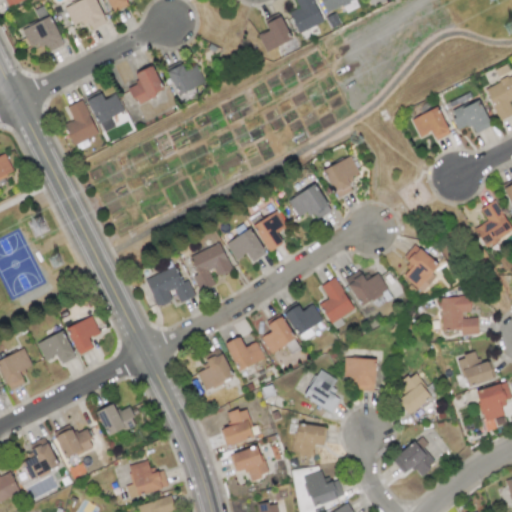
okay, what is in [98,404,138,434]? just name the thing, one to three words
house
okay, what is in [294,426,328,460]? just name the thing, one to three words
house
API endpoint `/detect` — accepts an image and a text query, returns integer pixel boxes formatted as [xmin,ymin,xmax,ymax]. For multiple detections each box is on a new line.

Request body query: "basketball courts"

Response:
[0,228,46,299]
